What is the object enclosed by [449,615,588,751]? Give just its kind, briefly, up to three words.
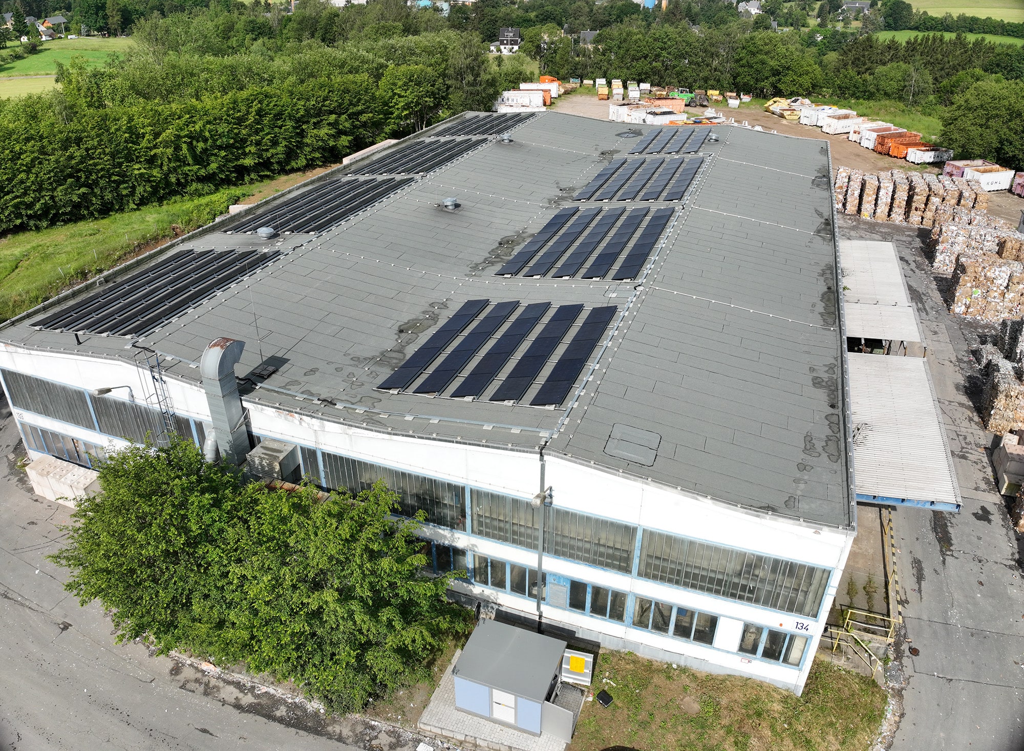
shed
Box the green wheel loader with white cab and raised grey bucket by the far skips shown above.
[677,87,709,108]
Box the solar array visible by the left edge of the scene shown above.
[31,244,281,341]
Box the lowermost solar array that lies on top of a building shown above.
[374,295,617,413]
